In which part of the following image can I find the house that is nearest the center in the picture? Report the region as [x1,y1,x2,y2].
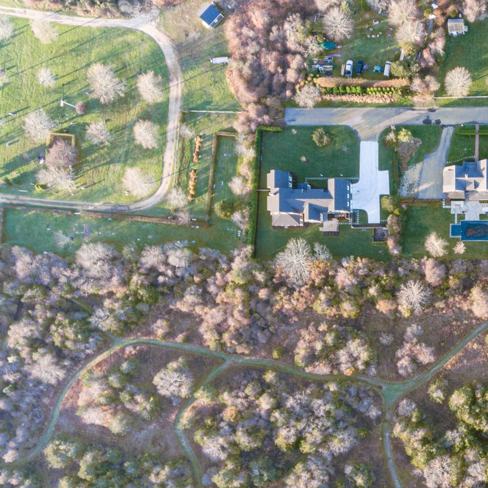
[267,167,353,232]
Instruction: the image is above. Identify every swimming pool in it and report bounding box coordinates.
[451,224,462,236]
[462,221,488,240]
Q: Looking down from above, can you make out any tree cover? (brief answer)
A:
Yes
